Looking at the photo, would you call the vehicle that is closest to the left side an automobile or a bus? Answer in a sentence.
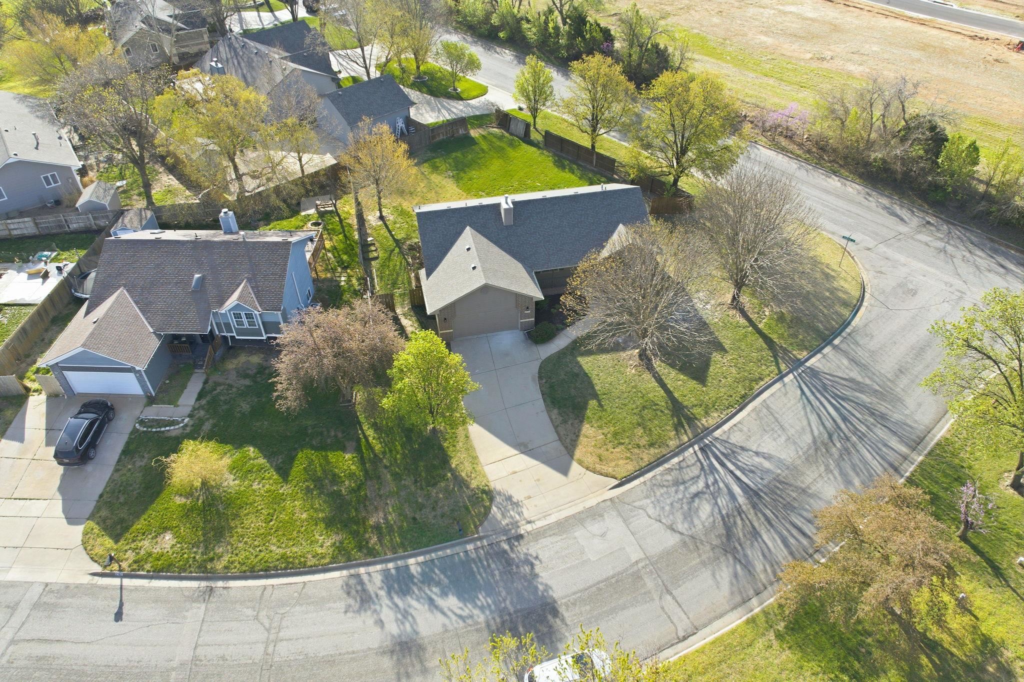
In the photo, the vehicle that is closest to the left side shows up as an automobile.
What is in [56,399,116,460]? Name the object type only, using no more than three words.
car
